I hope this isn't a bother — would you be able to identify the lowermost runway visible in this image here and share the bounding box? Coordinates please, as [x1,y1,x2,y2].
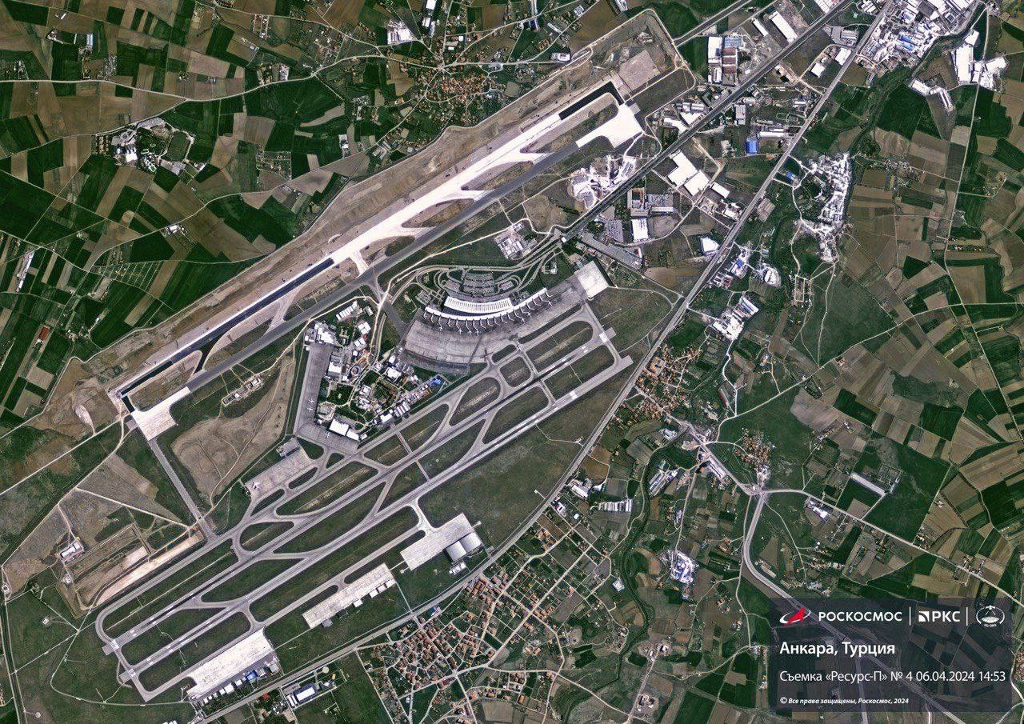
[129,355,630,677]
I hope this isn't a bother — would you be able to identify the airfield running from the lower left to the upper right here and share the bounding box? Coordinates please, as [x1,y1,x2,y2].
[4,10,694,723]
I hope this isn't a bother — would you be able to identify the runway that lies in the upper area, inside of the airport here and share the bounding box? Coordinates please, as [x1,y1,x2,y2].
[118,81,623,412]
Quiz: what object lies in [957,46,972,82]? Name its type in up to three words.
building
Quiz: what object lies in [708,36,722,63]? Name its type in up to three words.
building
